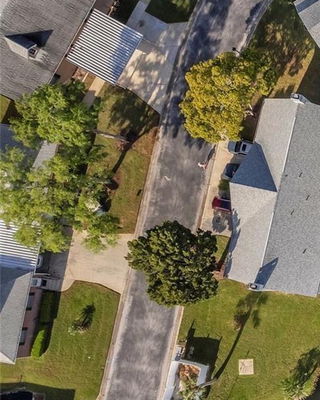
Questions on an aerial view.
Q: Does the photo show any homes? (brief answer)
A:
Yes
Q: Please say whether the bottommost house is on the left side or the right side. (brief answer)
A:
left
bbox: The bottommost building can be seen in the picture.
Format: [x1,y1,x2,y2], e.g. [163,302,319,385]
[0,270,59,365]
